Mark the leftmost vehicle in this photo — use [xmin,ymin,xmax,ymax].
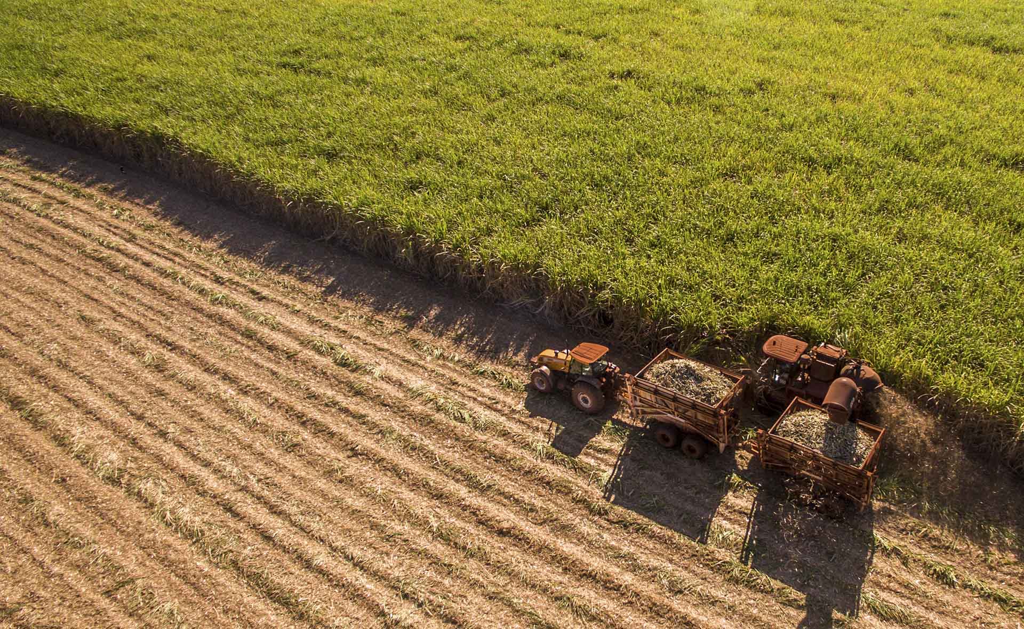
[530,343,627,417]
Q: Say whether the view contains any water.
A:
No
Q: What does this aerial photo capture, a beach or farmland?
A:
farmland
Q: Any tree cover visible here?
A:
No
